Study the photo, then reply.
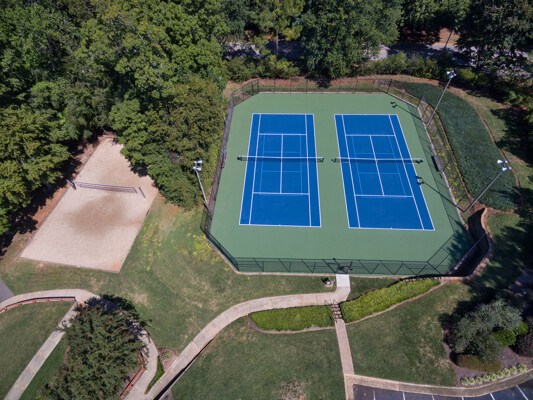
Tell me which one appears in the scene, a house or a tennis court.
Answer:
tennis court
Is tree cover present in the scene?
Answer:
Yes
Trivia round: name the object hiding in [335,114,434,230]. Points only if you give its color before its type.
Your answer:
blue tennis court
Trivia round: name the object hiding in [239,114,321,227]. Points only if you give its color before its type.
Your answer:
blue tennis court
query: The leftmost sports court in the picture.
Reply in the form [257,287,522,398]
[20,134,176,272]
